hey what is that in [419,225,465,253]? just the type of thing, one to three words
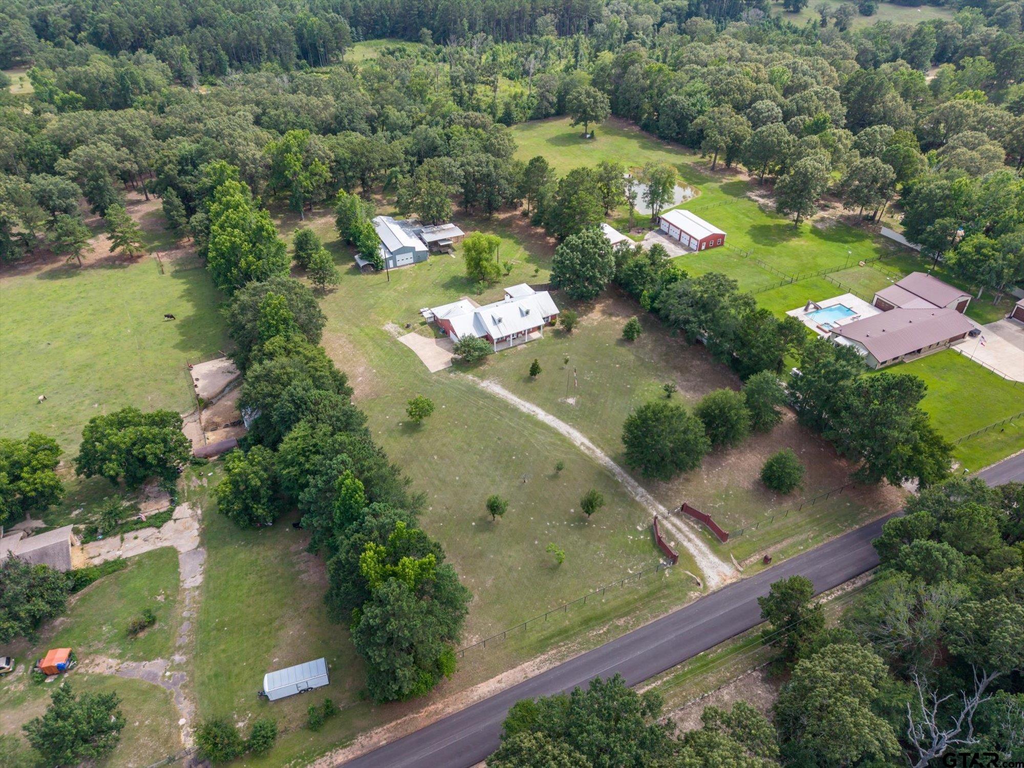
shed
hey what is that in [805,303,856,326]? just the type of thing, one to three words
swimming pool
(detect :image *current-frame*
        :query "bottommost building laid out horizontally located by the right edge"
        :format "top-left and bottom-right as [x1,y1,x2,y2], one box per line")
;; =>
[826,307,975,368]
